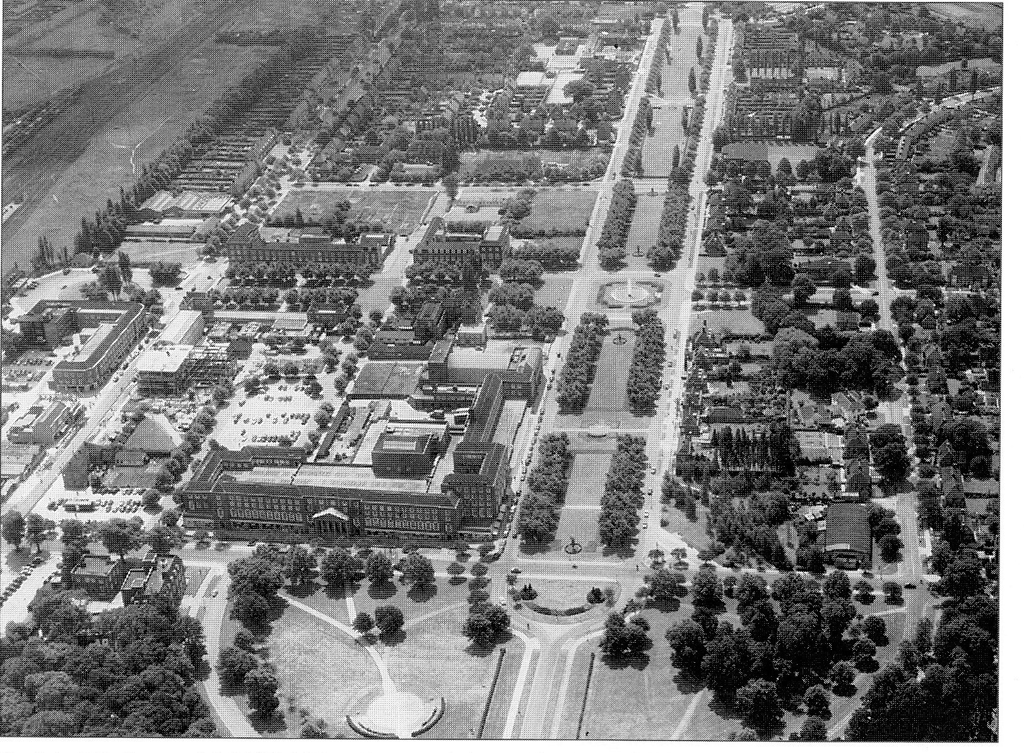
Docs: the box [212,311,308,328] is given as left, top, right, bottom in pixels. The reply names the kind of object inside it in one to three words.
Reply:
shed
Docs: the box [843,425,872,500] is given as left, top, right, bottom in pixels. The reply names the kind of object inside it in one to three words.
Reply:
building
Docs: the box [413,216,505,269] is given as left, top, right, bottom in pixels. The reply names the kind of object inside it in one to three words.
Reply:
building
